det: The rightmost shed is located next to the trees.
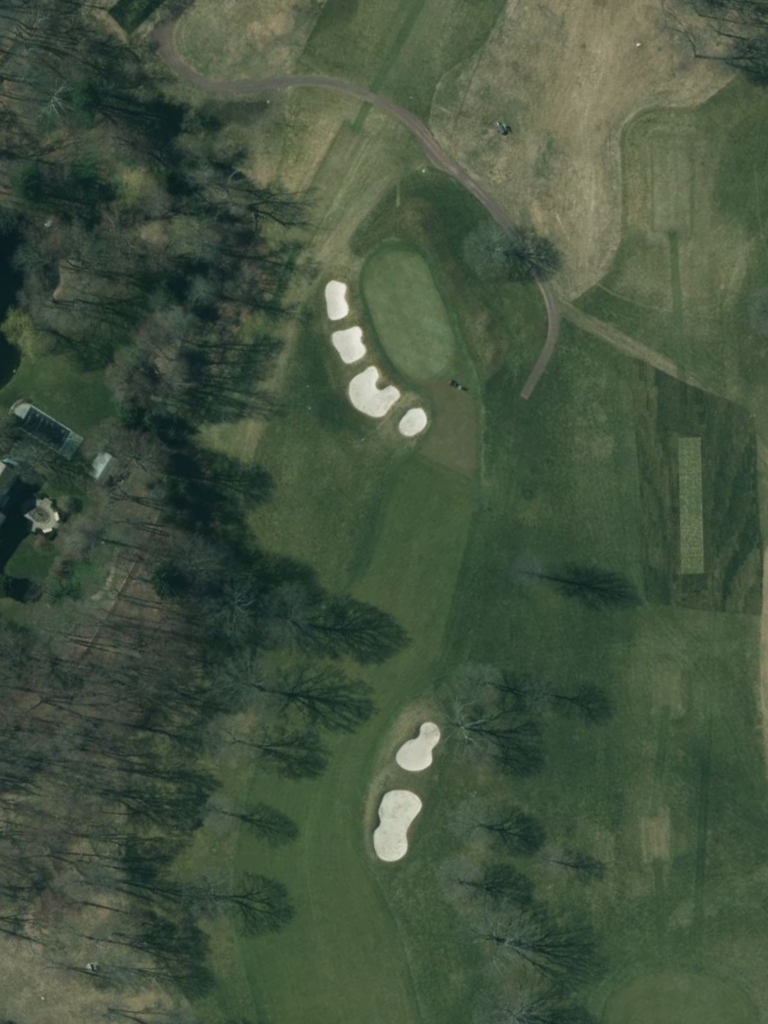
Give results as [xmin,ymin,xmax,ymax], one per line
[87,452,113,480]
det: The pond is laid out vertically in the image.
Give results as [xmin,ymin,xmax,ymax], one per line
[0,225,21,389]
